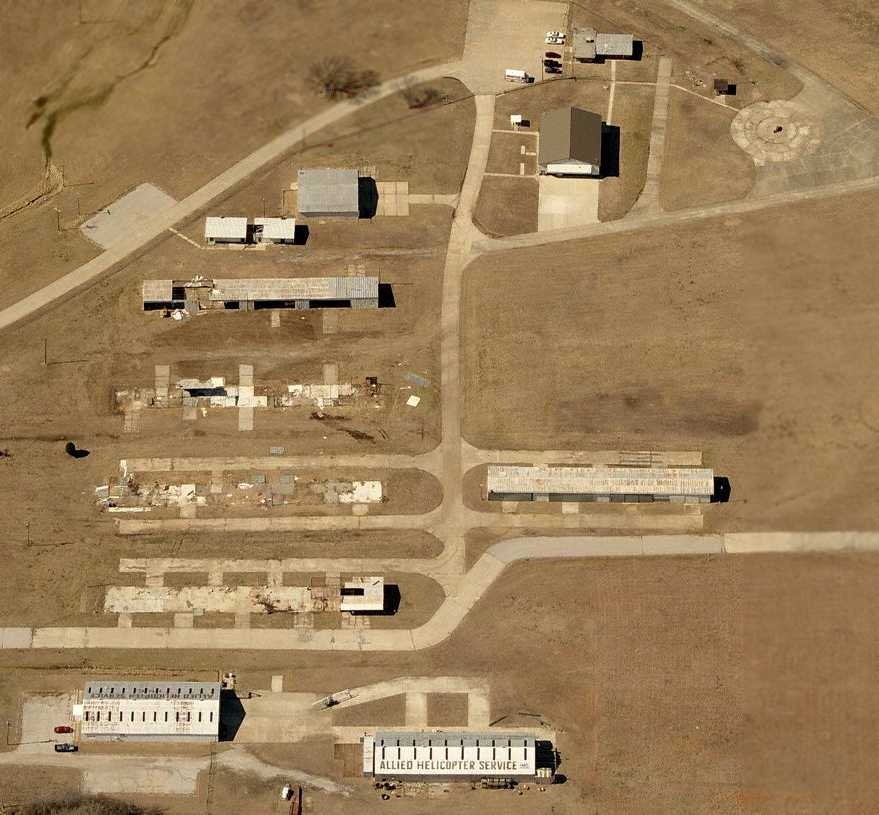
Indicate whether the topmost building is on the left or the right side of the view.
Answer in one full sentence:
The topmost building is on the right side of the image.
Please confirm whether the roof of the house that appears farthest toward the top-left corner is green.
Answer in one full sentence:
No, the roof of the house that appears farthest toward the top-left corner is actually white.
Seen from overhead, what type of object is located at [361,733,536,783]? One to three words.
hangar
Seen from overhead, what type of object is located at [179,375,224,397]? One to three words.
shed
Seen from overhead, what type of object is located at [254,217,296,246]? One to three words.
house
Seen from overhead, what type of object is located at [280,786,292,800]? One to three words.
vehicle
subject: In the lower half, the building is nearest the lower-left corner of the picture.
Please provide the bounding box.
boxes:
[72,682,221,743]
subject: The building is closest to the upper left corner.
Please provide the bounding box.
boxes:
[205,216,248,246]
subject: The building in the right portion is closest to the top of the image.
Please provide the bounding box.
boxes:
[573,26,632,64]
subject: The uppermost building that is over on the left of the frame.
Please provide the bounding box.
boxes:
[299,168,359,219]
